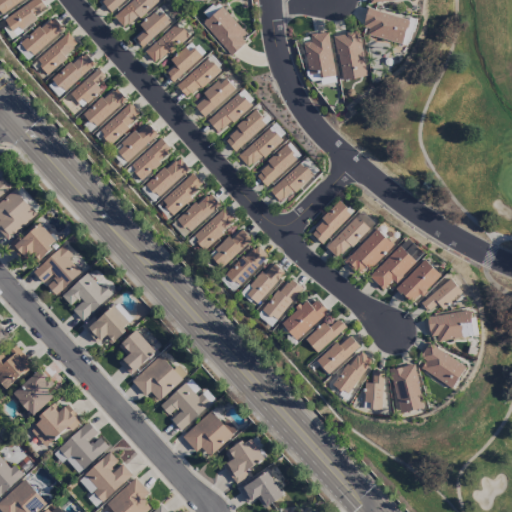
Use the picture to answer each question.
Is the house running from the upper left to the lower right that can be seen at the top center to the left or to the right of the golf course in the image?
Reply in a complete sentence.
The house running from the upper left to the lower right that can be seen at the top center appears to the left of the golf course in this view.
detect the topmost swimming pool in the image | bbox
[122,291,136,312]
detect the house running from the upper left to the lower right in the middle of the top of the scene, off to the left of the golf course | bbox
[204,4,251,53]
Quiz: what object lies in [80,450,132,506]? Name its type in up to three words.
house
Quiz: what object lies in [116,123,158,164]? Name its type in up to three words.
house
